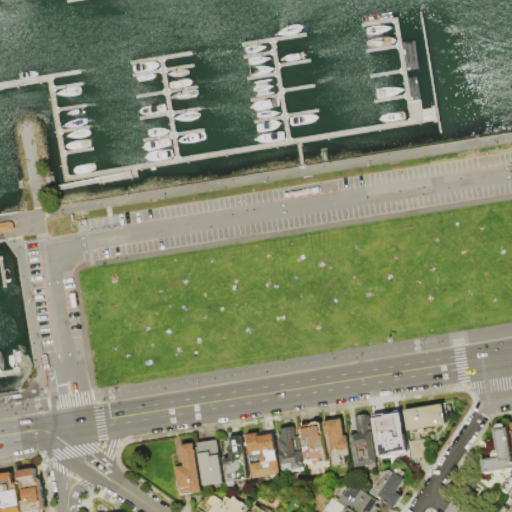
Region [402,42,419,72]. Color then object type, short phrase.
gray ship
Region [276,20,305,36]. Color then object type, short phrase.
white boat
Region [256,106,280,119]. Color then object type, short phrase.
white boat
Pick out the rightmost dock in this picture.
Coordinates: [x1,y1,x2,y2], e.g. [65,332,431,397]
[420,8,442,134]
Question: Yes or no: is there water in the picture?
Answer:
Yes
